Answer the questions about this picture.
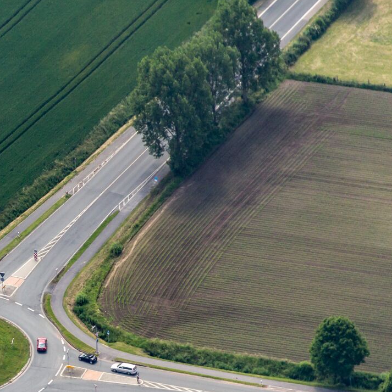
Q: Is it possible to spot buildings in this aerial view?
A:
No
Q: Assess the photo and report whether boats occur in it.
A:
No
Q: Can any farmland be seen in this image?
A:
Yes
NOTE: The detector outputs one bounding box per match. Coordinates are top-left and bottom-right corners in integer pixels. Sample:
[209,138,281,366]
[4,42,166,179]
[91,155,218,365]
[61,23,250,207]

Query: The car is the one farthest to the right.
[111,363,139,376]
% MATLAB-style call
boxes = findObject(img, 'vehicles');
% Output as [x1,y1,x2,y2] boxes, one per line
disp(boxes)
[37,339,47,353]
[76,351,101,364]
[111,363,139,376]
